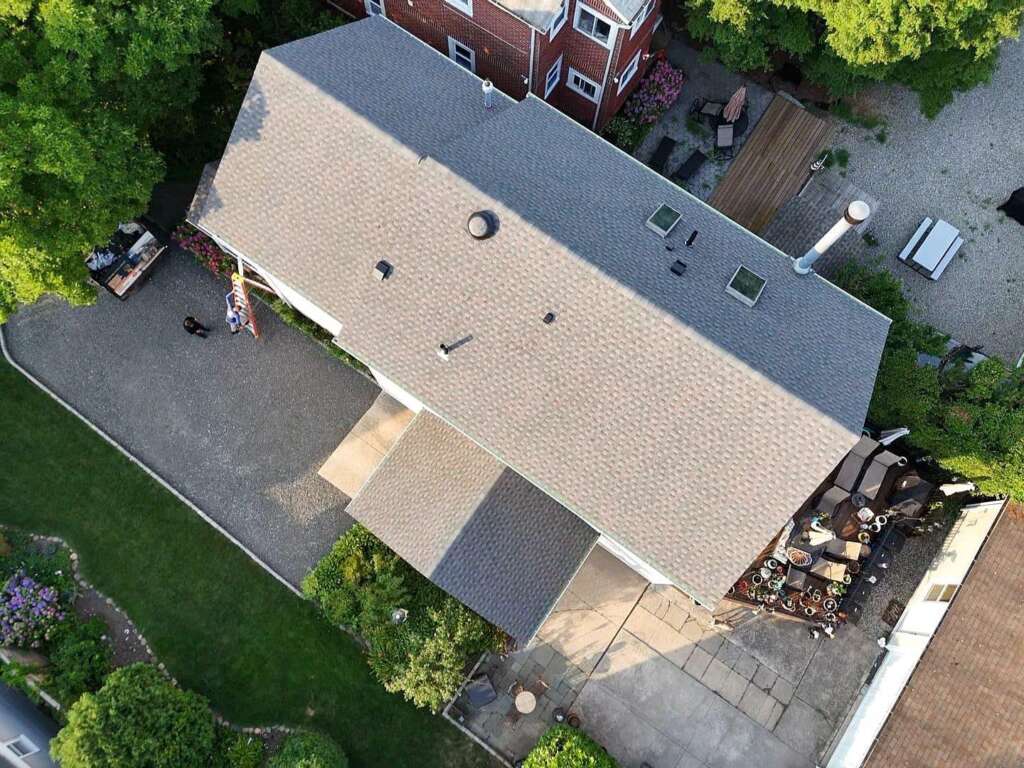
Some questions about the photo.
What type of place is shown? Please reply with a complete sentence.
The area seen from above is a residential area.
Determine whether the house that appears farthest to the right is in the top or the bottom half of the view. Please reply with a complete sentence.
It is in the bottom half that the house that appears farthest to the right appears.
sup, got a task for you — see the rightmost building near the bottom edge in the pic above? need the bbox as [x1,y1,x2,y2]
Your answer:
[814,495,1024,768]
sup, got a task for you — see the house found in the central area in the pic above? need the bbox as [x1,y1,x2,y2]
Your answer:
[187,11,892,646]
